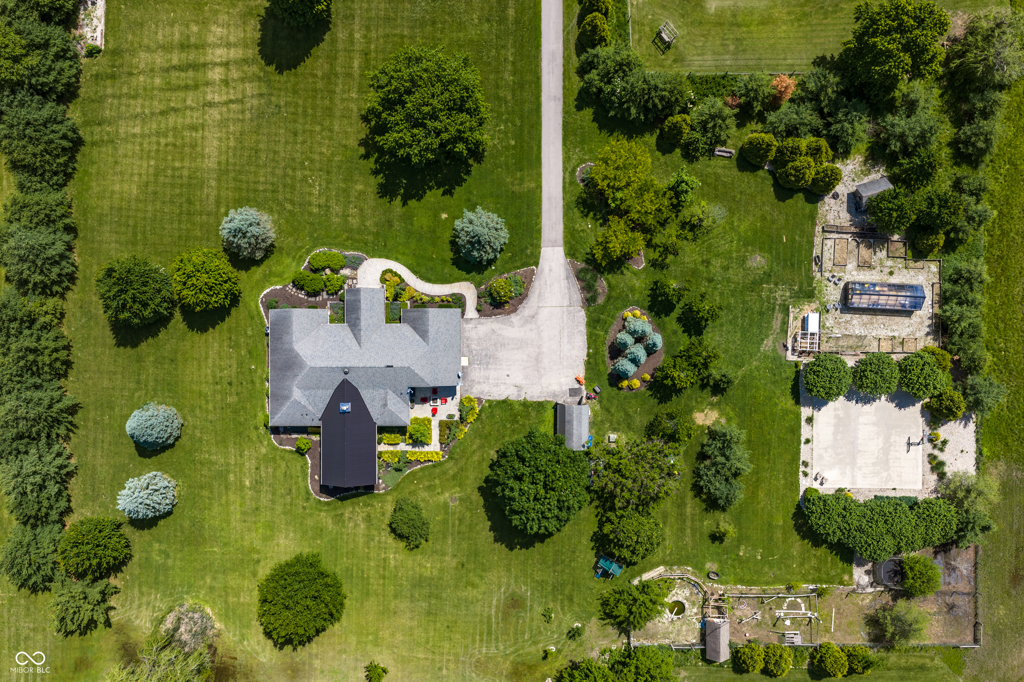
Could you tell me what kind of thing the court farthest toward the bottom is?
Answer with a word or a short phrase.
basketball court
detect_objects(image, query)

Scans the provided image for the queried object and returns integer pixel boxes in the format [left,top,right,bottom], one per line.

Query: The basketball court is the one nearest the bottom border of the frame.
[812,379,922,489]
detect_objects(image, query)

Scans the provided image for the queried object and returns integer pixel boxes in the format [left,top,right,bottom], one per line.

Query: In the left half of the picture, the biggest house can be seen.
[269,288,461,488]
